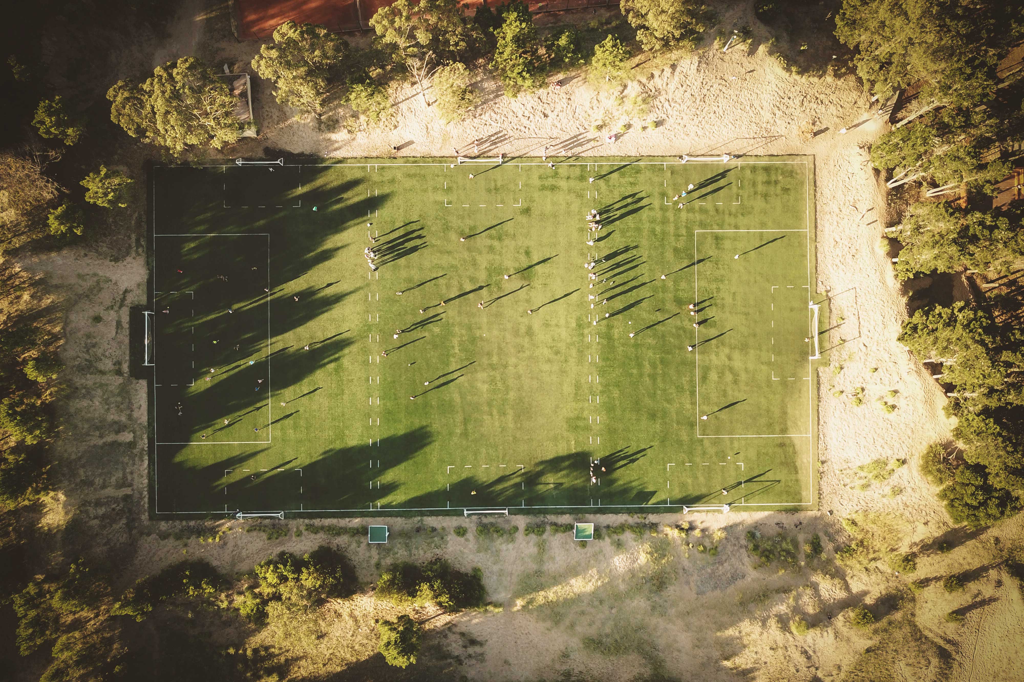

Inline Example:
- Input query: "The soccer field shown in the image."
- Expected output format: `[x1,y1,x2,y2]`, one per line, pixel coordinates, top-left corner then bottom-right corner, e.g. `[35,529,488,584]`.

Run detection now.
[128,155,835,520]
